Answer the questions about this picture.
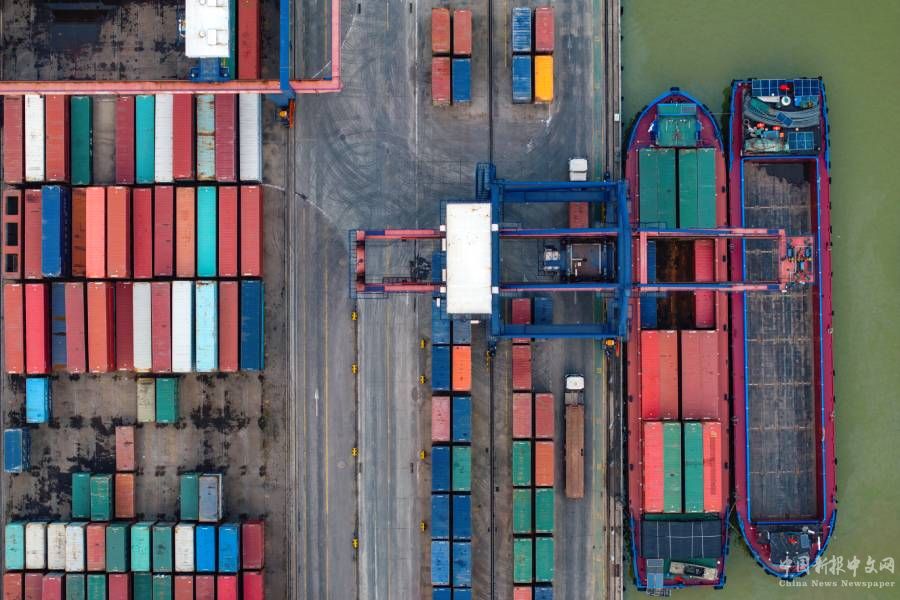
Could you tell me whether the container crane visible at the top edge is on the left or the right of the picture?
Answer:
left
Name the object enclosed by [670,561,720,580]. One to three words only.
boat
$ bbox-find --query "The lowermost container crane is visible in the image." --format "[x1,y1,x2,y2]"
[349,162,813,370]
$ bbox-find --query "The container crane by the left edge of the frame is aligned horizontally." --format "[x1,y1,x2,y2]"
[0,0,342,127]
